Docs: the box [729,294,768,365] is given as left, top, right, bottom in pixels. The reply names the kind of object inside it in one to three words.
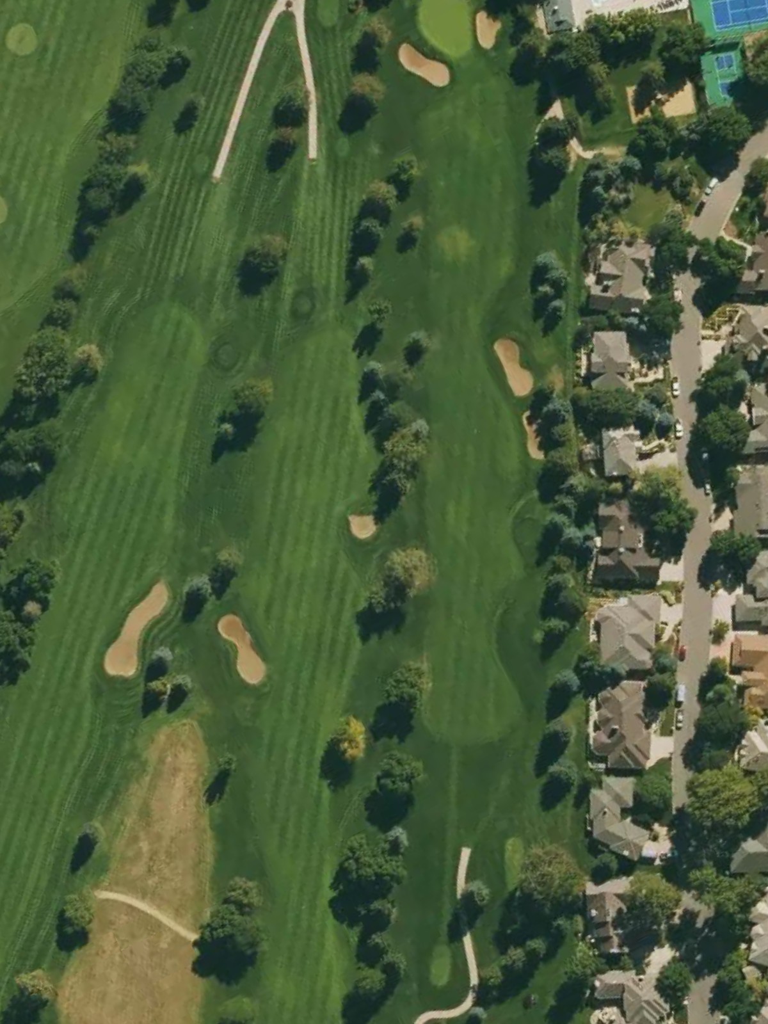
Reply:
house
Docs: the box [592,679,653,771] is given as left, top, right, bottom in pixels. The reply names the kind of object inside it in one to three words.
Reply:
house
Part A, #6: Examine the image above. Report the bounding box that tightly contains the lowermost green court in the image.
[704,40,752,101]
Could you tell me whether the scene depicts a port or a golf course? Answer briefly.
golf course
